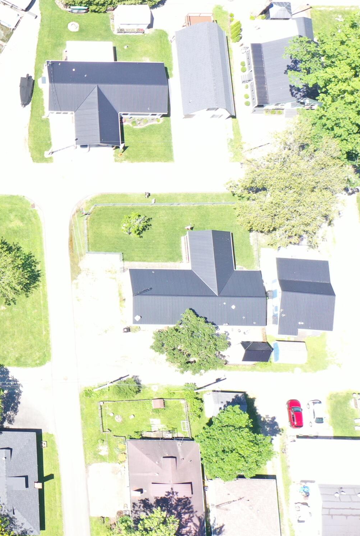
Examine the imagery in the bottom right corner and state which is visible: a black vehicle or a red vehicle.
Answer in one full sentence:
Looking in the bottom right corner, you will find a red vehicle.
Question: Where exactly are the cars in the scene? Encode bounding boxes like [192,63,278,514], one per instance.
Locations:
[285,398,304,430]
[305,397,328,430]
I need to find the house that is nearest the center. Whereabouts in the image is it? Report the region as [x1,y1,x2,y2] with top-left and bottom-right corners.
[125,230,267,326]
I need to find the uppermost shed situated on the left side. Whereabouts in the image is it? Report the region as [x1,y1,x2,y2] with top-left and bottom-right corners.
[110,4,150,31]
